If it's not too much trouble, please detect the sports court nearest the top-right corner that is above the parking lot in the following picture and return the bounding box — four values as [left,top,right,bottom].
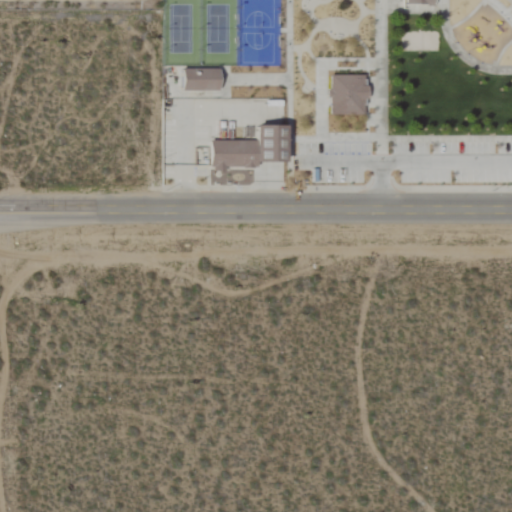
[402,29,440,52]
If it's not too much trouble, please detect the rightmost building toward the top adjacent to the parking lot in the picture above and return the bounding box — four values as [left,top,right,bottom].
[329,74,372,114]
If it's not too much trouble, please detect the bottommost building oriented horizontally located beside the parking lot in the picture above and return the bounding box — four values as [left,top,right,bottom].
[212,126,291,171]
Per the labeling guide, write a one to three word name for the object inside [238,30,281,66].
basketball court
